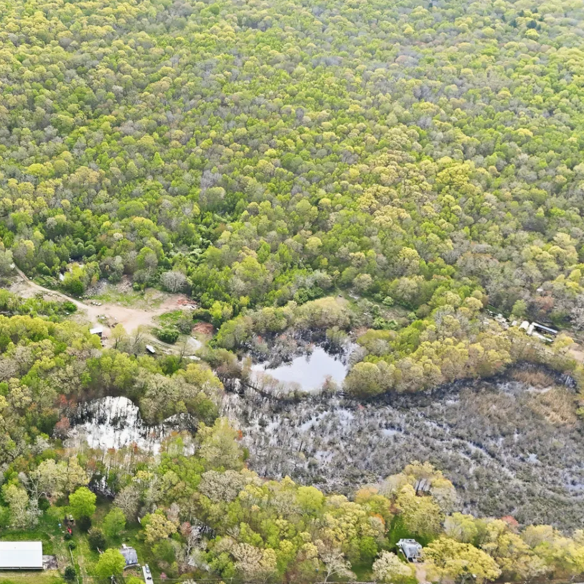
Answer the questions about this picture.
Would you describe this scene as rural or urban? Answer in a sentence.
It looks rural.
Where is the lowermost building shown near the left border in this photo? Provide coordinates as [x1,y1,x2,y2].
[0,540,43,570]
